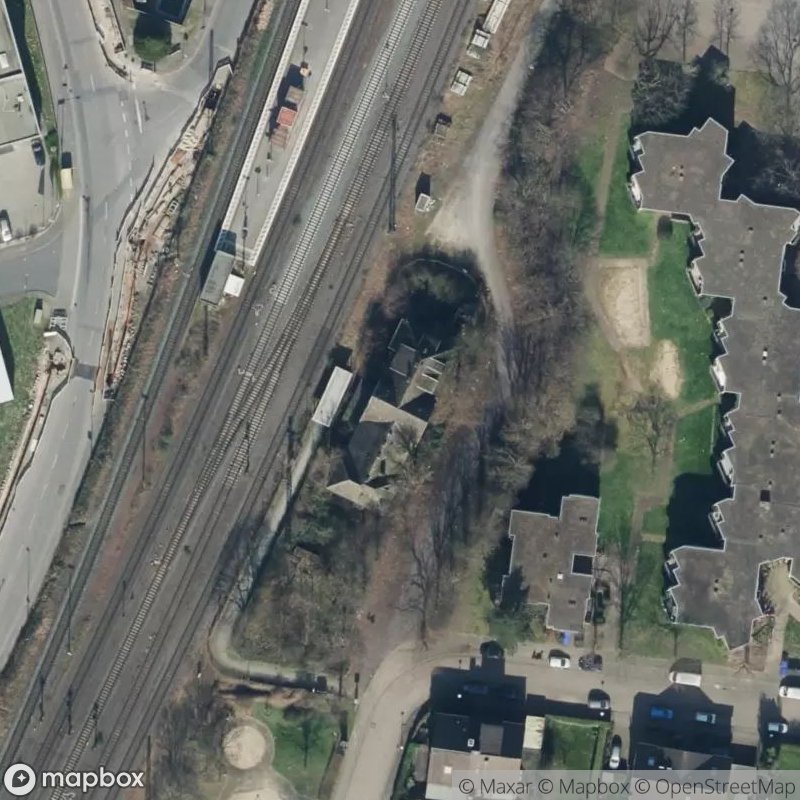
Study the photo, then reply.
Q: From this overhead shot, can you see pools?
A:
No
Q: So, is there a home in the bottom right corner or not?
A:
Yes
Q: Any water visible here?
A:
No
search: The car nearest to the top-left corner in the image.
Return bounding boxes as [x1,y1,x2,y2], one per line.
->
[32,141,45,164]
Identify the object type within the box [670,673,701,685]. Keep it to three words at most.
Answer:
vehicle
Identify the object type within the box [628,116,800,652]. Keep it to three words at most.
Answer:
building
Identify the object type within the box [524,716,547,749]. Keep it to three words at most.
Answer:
building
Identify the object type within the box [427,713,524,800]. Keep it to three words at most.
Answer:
house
